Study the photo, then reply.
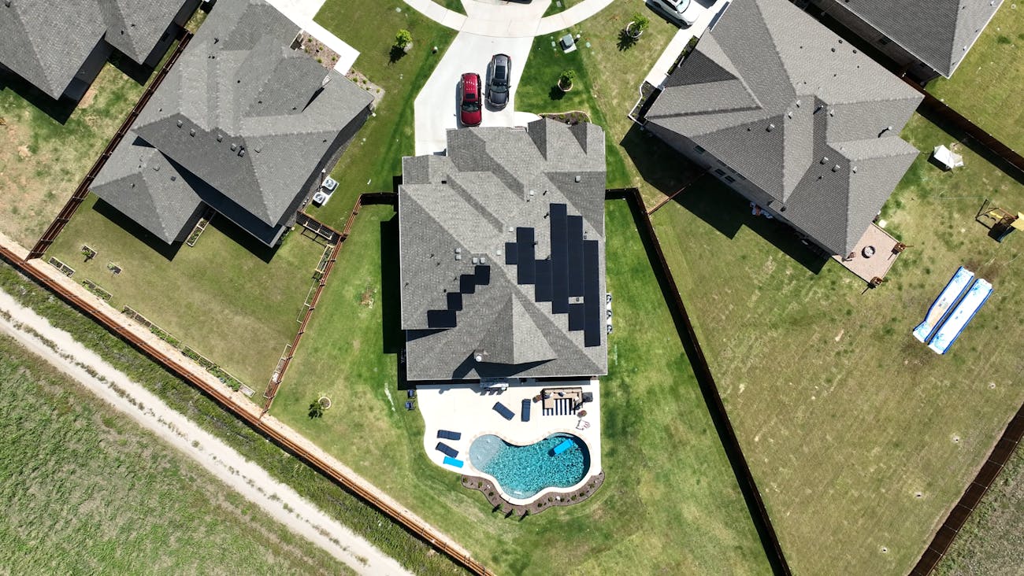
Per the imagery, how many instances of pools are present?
1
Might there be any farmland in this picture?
No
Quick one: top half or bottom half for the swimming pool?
bottom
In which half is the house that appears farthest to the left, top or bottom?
top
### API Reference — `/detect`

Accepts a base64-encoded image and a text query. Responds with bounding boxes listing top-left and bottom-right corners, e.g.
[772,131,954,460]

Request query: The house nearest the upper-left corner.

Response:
[0,0,198,102]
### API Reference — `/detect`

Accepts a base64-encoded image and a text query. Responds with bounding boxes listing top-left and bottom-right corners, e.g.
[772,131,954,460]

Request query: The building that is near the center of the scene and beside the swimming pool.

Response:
[398,118,608,381]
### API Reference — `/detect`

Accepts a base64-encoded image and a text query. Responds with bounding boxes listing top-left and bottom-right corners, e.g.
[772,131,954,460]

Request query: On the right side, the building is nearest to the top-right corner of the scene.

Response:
[811,0,1004,81]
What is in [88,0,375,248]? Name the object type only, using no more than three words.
house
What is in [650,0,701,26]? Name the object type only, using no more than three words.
car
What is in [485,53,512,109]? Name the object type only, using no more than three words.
car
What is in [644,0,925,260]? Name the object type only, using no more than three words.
house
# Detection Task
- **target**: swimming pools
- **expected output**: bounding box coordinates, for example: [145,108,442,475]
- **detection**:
[467,429,594,503]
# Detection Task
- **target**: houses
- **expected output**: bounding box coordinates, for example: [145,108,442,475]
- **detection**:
[644,0,925,260]
[0,0,198,102]
[811,0,1004,81]
[398,118,608,381]
[88,0,375,248]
